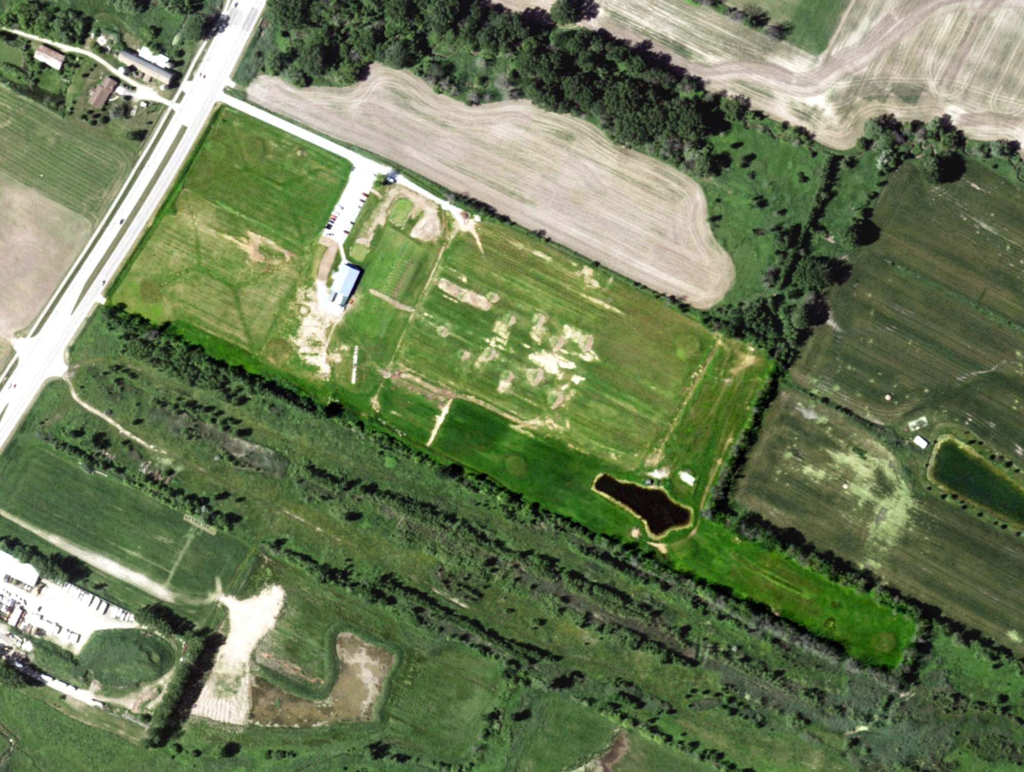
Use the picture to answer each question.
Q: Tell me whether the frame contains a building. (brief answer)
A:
Yes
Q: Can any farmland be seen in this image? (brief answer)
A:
Yes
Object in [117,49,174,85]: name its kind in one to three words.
barn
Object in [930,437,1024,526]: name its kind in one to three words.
pond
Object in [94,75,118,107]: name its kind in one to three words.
house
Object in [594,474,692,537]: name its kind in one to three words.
pond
